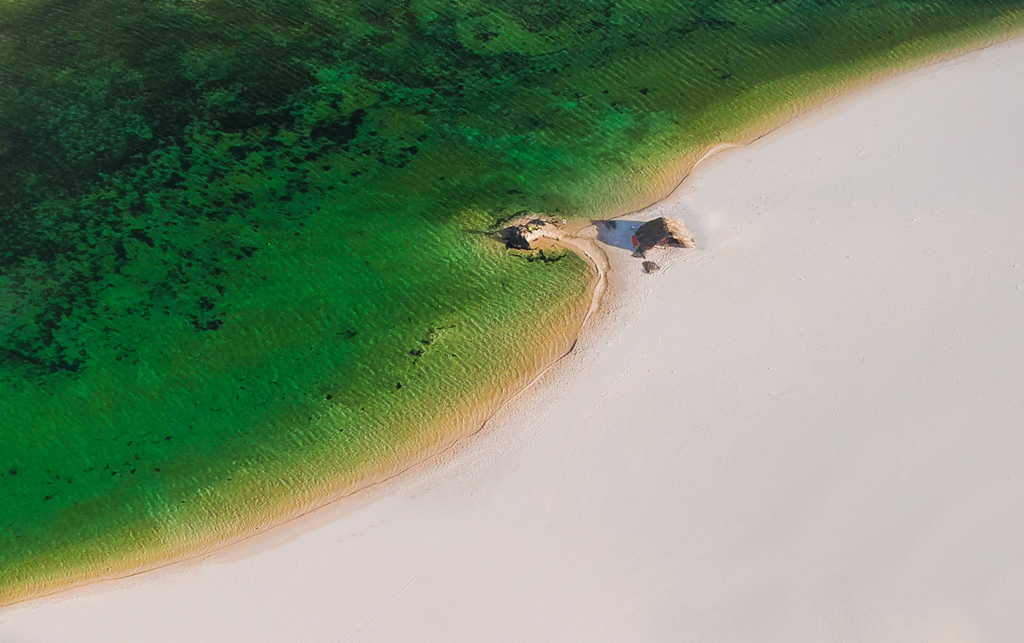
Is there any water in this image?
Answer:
Yes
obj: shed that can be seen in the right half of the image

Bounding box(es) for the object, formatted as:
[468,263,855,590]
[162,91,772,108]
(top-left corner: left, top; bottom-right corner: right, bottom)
[634,212,695,249]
